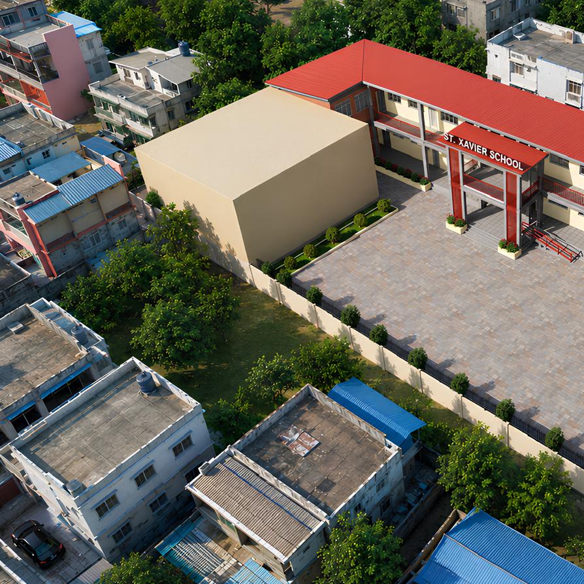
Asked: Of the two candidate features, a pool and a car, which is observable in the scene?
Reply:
car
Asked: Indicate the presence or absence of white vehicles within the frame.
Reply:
No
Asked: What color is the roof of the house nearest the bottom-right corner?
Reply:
blue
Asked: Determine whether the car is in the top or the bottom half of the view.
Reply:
bottom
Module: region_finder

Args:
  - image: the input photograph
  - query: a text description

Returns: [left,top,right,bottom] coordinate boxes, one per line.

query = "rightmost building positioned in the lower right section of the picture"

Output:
[400,507,584,584]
